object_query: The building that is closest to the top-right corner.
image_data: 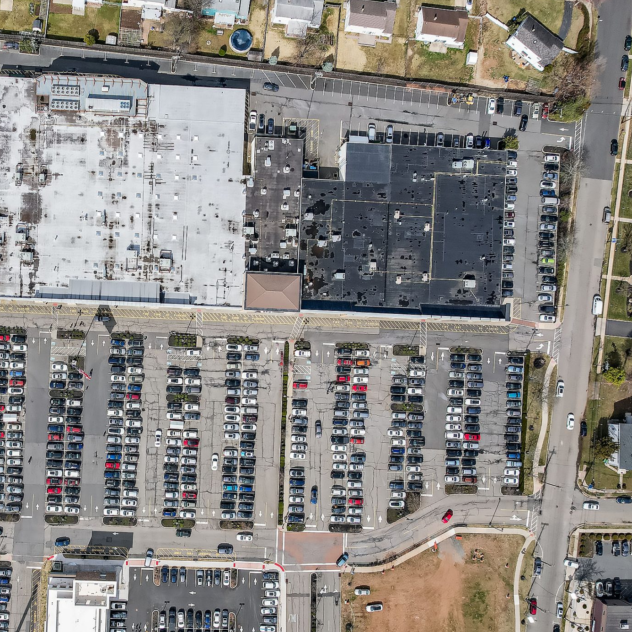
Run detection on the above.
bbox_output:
[506,16,563,69]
